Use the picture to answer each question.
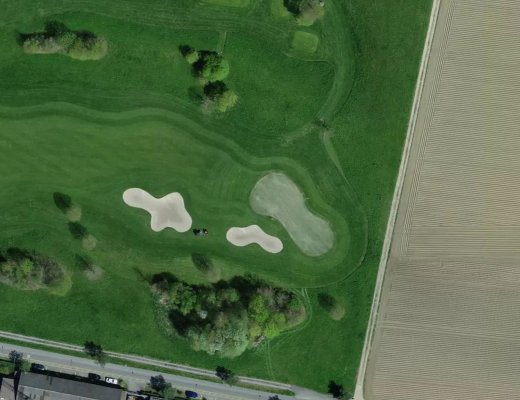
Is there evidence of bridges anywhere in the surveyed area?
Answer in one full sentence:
No, I can't see a single bridge in this photo.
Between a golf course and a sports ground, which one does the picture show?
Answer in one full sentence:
The area seen from above is a golf course.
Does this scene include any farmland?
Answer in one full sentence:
Yes, there is farmland in the image.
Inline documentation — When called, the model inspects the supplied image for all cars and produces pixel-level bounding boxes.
[185,391,197,398]
[32,364,44,371]
[106,379,117,385]
[89,374,100,380]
